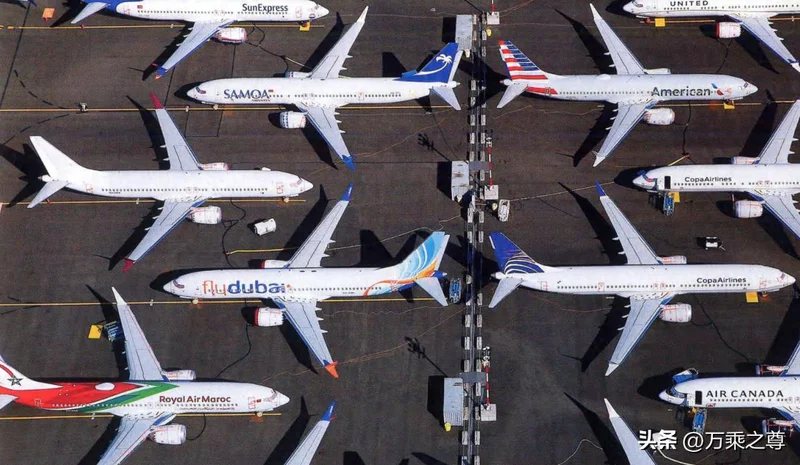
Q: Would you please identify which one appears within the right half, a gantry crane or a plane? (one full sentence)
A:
What appears within the right half is a plane.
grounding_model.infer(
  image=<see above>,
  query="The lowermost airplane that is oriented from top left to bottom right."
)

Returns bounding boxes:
[602,399,651,465]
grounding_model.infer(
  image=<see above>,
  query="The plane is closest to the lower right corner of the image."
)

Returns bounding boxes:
[659,347,800,438]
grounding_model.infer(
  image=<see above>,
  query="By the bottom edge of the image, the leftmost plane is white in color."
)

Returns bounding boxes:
[0,288,289,465]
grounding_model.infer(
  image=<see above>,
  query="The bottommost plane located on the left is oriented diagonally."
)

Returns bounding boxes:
[290,400,337,465]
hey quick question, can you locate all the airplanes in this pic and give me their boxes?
[495,4,758,167]
[186,7,465,170]
[659,347,800,438]
[0,288,289,465]
[625,0,800,67]
[633,98,800,238]
[290,400,337,465]
[485,181,796,377]
[163,182,451,378]
[28,92,312,271]
[602,399,651,465]
[71,0,329,80]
